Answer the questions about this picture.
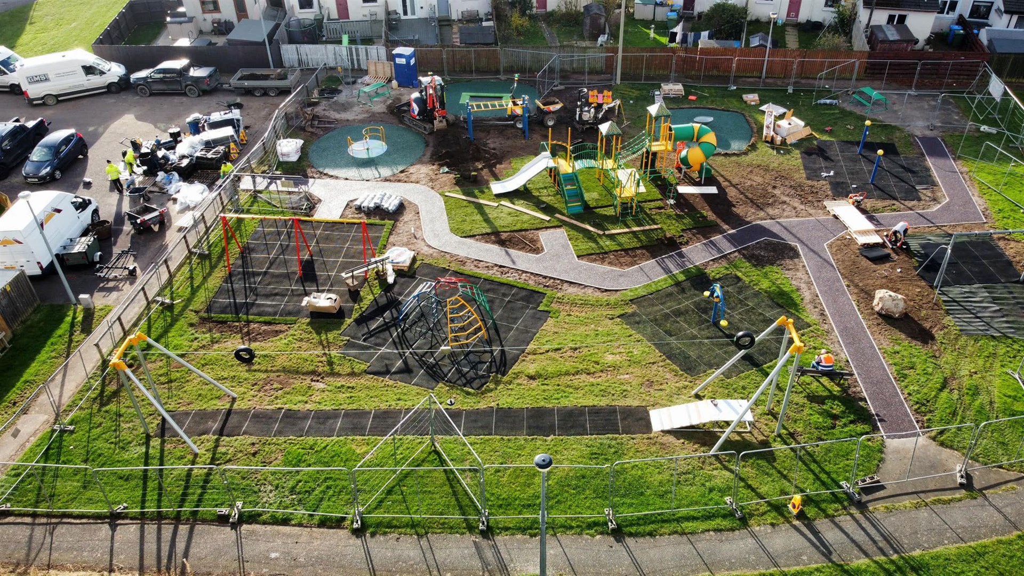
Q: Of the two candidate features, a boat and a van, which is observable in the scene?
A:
van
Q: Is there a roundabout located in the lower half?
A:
No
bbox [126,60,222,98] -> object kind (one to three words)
truck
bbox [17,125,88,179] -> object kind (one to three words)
car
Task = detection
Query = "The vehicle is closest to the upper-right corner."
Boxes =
[571,88,622,131]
